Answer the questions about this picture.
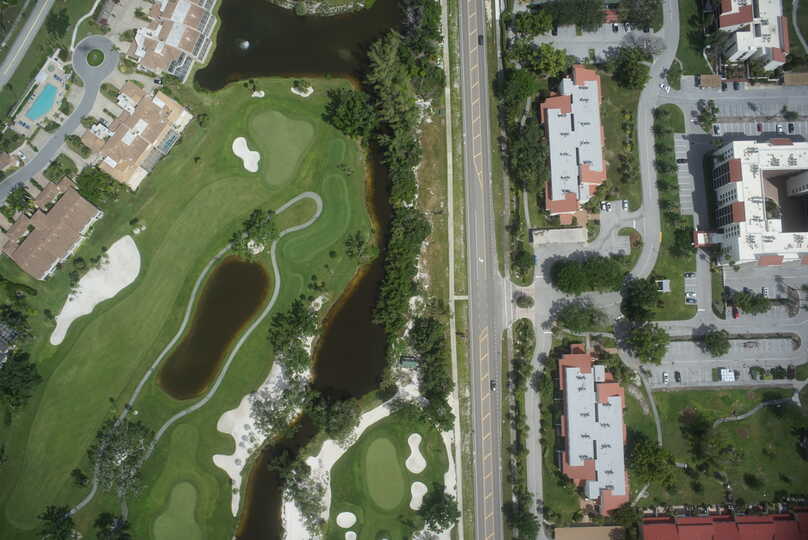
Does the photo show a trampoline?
No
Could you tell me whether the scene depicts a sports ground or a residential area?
residential area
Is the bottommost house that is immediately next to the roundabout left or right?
left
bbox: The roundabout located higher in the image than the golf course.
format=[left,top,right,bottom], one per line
[71,34,118,79]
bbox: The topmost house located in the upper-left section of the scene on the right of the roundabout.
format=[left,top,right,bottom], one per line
[128,0,219,76]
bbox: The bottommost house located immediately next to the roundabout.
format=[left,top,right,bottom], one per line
[81,81,196,193]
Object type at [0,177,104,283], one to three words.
house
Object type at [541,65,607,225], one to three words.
building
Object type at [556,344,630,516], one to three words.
building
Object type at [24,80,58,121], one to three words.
swimming pool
